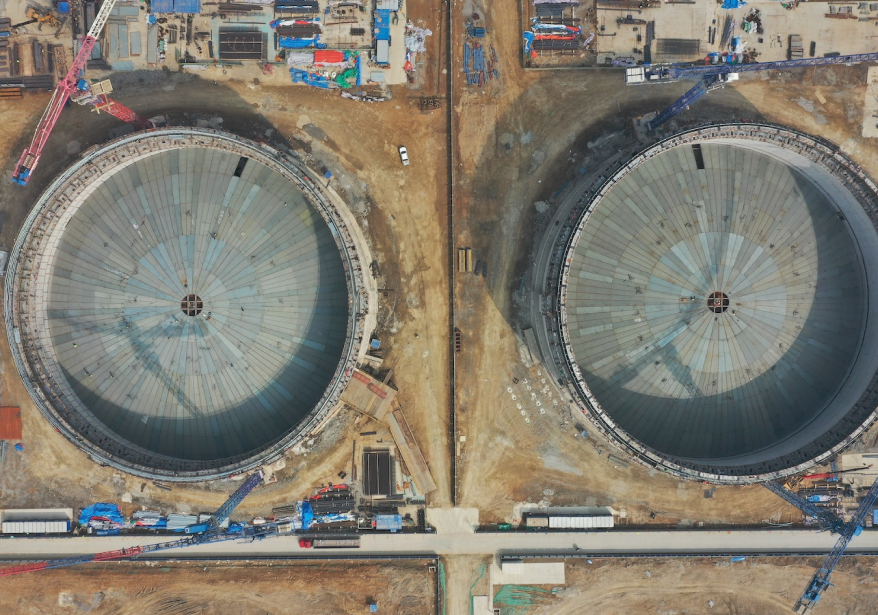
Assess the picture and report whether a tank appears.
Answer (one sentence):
Yes, the image includes a tank.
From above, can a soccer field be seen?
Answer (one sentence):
No, there isn't any soccer field down there.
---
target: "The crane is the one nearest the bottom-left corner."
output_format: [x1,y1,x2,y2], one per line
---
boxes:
[0,463,304,573]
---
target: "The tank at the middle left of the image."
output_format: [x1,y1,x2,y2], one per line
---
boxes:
[1,124,376,483]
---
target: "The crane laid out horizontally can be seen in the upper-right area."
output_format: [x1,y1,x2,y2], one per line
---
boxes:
[623,53,878,138]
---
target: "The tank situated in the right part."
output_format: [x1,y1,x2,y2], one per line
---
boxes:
[531,121,878,485]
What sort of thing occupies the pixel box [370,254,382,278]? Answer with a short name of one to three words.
vehicle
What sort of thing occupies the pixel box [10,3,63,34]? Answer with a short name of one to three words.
crane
